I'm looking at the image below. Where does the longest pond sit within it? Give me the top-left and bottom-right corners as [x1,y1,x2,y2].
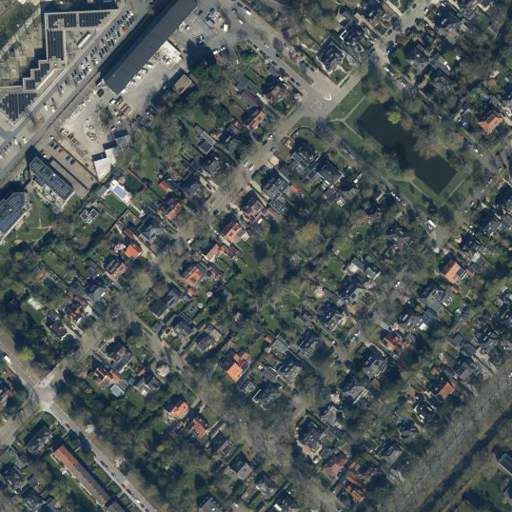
[358,100,457,195]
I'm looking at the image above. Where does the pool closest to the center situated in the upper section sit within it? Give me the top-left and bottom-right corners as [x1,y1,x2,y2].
[112,183,129,202]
